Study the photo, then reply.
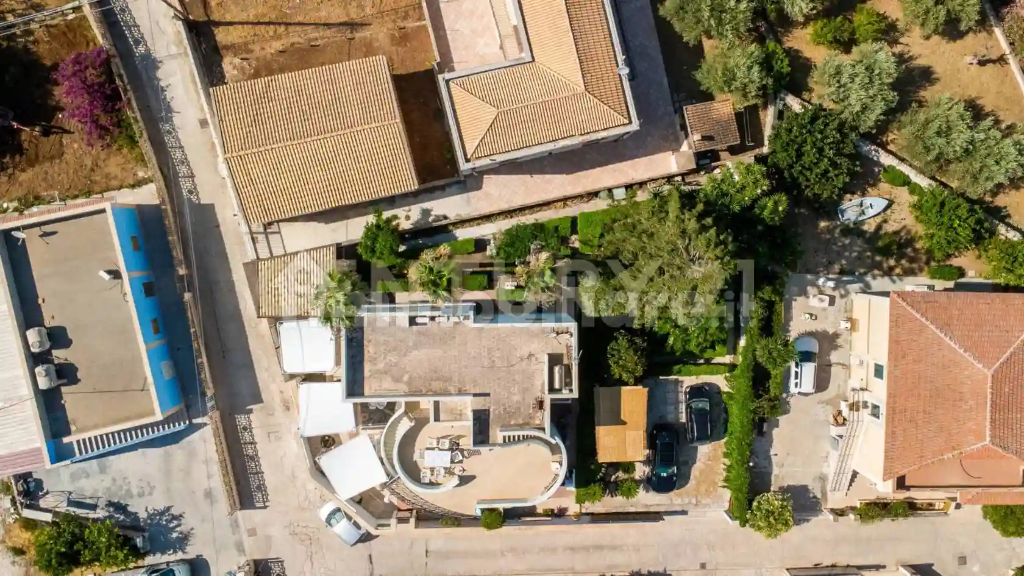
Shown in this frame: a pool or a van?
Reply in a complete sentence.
The one in the frame is a van.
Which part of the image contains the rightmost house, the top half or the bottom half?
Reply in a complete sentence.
You can find the rightmost house in the bottom half.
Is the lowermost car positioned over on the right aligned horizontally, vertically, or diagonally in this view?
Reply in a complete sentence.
In this picture, the lowermost car positioned over on the right is oriented vertically.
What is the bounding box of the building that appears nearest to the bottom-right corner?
[848,290,1024,496]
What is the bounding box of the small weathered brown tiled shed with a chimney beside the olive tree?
[678,97,740,152]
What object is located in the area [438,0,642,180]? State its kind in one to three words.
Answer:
house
